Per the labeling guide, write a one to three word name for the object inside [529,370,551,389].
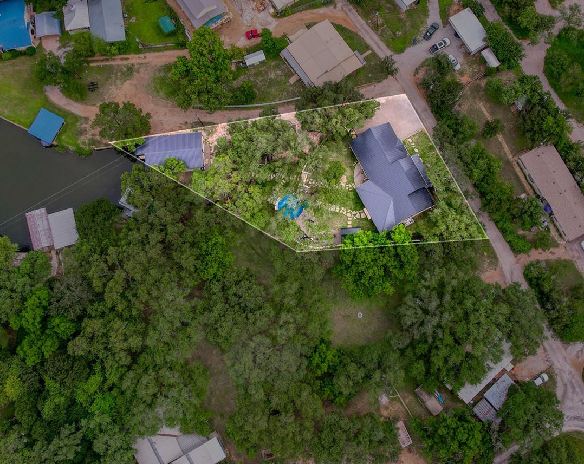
car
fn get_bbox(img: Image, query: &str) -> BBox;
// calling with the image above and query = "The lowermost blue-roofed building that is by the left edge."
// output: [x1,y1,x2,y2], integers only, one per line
[28,108,66,145]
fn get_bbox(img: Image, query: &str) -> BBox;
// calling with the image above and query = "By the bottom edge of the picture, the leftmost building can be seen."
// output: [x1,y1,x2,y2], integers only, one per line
[131,424,226,464]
